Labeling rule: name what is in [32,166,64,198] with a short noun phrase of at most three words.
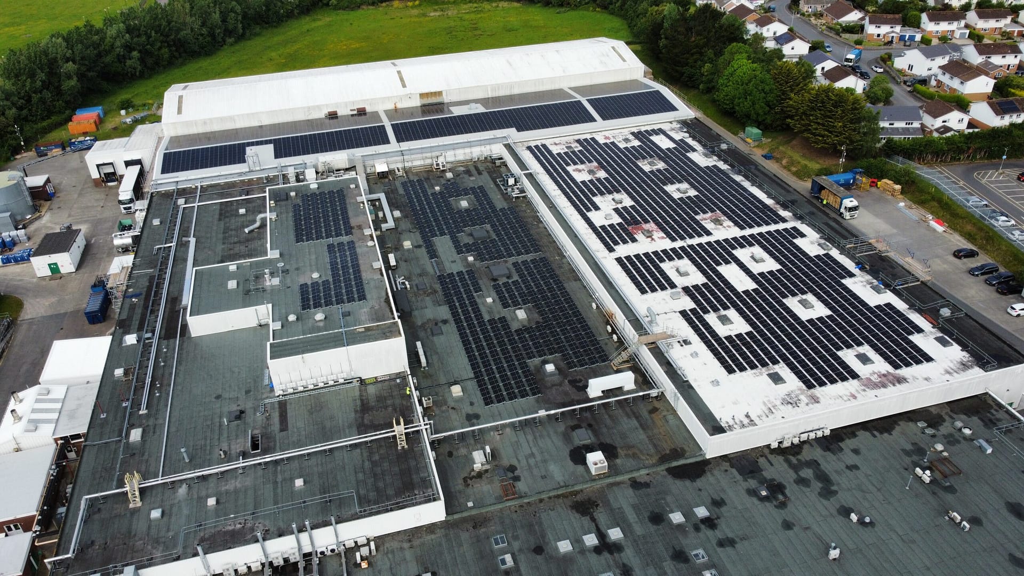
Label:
shed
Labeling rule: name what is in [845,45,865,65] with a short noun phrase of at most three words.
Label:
vehicle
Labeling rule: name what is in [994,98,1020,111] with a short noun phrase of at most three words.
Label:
solar array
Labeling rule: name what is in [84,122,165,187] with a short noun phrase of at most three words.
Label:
building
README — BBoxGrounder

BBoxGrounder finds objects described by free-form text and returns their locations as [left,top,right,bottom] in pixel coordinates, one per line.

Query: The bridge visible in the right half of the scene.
[611,320,678,367]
